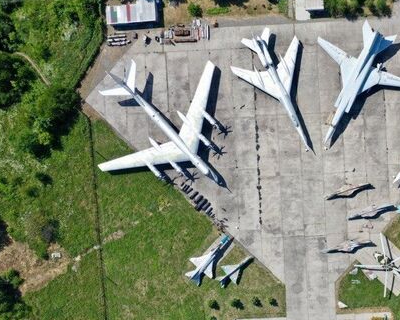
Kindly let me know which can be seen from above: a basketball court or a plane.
plane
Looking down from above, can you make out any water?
No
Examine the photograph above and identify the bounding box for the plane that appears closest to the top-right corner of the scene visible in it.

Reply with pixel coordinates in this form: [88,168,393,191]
[317,20,400,144]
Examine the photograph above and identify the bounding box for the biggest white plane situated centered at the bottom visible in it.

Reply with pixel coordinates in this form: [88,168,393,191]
[184,233,233,286]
